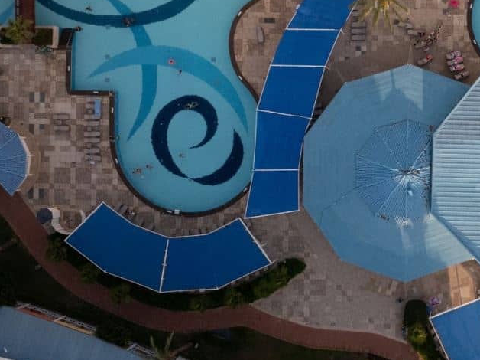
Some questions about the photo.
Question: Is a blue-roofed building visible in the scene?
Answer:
Yes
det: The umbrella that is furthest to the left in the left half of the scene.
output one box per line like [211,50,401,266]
[36,207,54,224]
